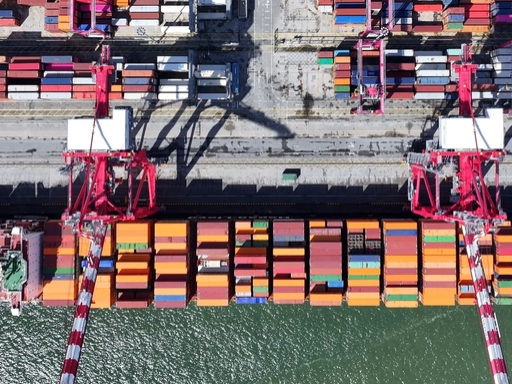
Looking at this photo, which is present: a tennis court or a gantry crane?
gantry crane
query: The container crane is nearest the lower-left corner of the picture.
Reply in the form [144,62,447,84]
[57,47,167,384]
